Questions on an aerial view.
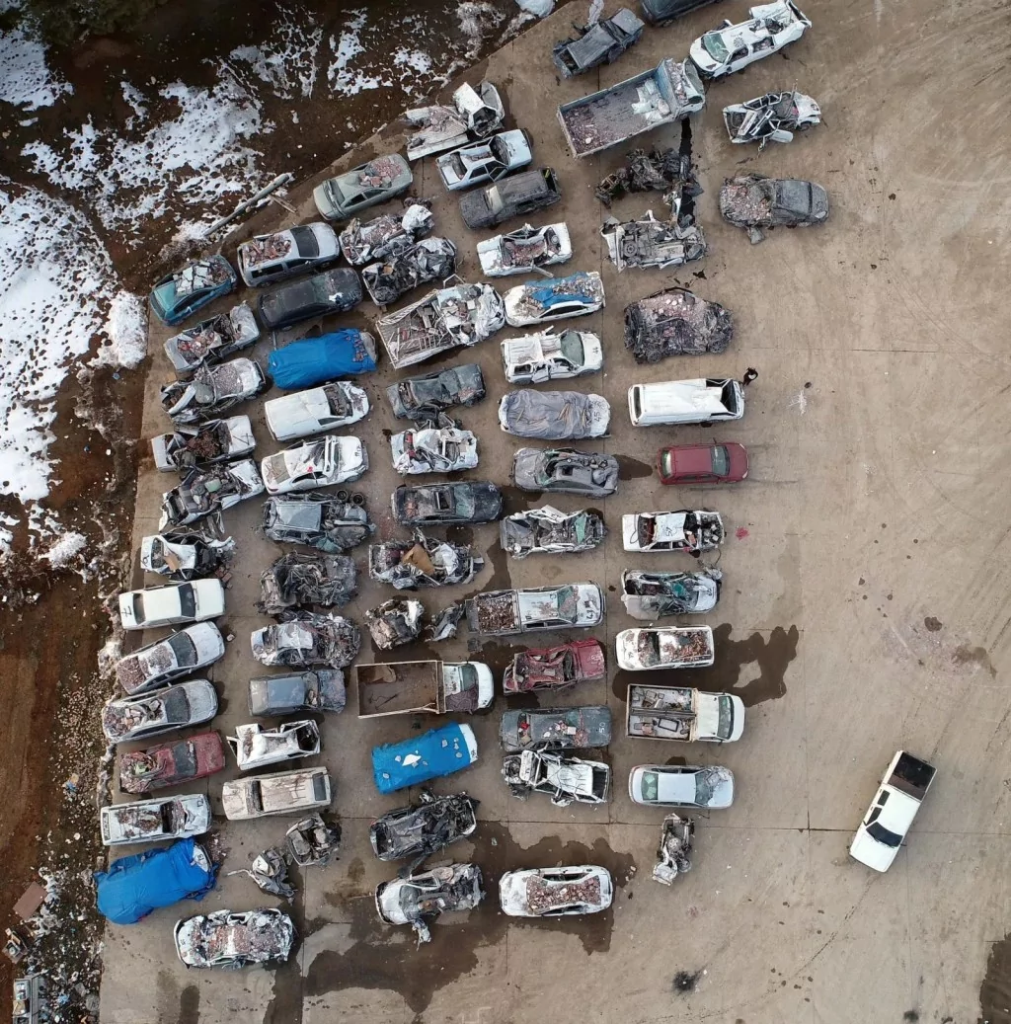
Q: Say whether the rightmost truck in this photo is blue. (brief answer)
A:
No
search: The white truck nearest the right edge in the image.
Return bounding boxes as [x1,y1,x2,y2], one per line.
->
[848,749,939,872]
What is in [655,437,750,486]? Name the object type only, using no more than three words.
car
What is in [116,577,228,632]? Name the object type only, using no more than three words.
car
